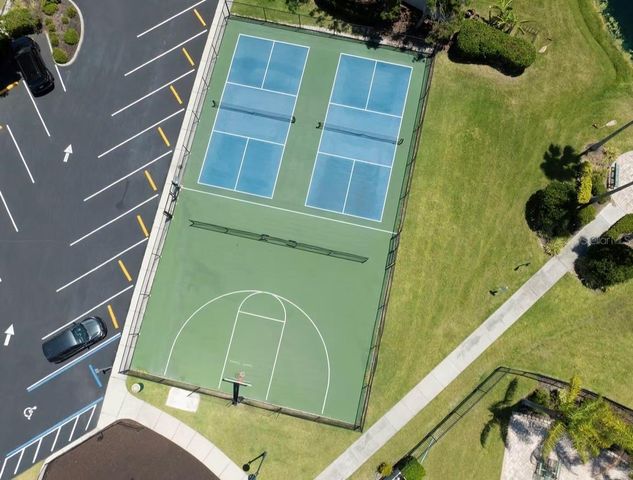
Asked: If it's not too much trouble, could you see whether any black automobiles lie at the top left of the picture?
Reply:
Yes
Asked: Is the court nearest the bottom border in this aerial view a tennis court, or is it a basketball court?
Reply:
basketball court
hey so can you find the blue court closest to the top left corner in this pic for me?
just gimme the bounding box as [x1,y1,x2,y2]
[197,33,310,199]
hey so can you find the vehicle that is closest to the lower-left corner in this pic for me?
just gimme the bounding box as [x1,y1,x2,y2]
[40,317,107,363]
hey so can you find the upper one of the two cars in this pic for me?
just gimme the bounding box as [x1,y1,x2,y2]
[12,36,55,98]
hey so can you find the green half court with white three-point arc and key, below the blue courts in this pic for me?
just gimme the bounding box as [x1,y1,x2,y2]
[130,187,397,425]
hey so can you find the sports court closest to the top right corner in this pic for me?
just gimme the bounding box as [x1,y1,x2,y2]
[305,53,413,222]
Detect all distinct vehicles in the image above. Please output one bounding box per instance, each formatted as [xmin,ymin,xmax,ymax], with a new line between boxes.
[40,317,107,363]
[12,36,55,98]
